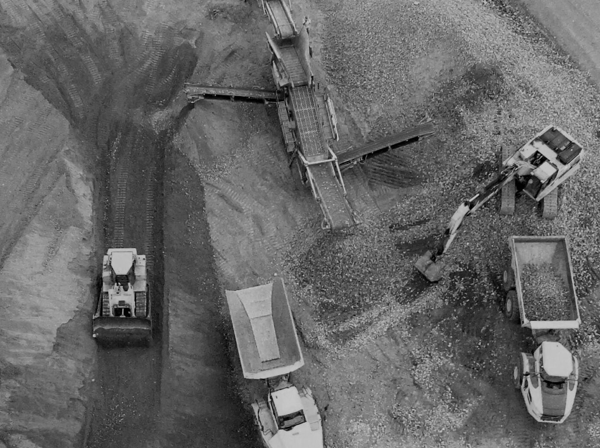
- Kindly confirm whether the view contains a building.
No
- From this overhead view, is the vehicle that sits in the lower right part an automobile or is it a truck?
truck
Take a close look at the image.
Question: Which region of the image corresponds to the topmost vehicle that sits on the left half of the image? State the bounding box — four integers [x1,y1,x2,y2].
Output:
[86,247,150,345]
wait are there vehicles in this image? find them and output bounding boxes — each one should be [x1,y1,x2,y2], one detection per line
[415,122,588,280]
[504,232,588,423]
[86,247,150,345]
[226,276,321,448]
